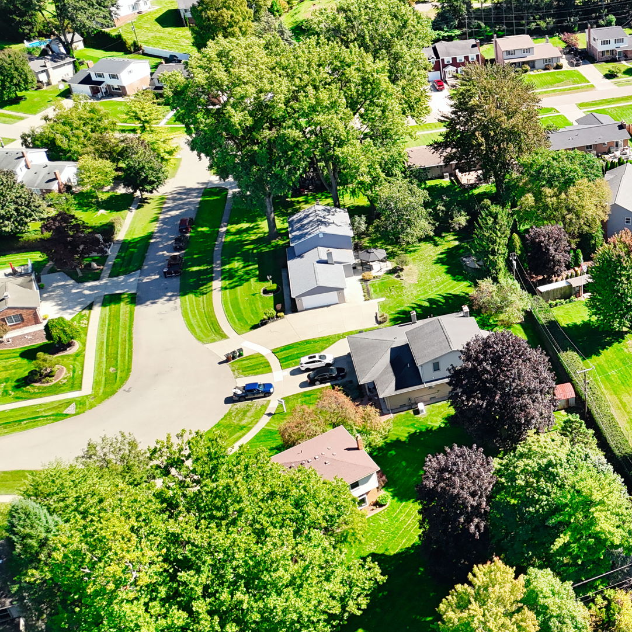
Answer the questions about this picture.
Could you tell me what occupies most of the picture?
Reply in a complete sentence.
Most of the picture is covered by trees.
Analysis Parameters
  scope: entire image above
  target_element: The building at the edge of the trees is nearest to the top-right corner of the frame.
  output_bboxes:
[577,23,632,64]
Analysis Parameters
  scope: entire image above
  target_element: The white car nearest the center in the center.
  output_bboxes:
[299,352,335,371]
